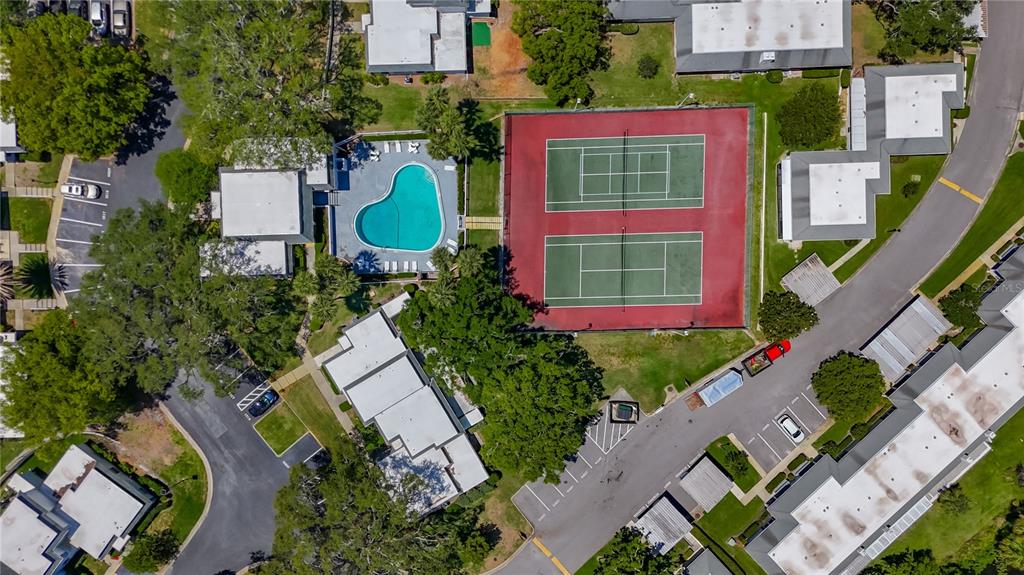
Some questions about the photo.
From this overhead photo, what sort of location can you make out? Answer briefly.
residential area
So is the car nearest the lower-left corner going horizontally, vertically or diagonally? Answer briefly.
diagonally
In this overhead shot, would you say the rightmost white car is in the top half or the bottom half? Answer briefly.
bottom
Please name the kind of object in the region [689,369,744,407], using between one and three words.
trailer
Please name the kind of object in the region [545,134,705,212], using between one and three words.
tennis court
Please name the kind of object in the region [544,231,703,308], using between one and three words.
tennis court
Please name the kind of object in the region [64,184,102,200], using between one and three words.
car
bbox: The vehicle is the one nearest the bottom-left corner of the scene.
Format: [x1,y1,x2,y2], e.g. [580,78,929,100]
[248,389,280,416]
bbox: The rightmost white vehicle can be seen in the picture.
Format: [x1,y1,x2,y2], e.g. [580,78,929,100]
[777,412,805,444]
